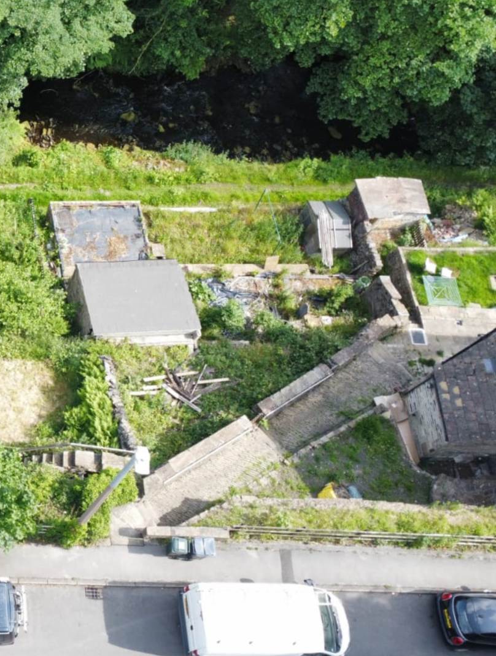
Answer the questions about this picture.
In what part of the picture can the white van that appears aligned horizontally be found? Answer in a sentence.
Look in the bottom portion of the view to spot the white van that appears aligned horizontally.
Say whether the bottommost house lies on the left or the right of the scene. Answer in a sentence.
The bottommost house is on the right side of the image.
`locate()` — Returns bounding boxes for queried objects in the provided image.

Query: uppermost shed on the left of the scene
[46,199,151,291]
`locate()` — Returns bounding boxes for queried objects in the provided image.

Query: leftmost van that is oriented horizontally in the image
[181,581,351,656]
